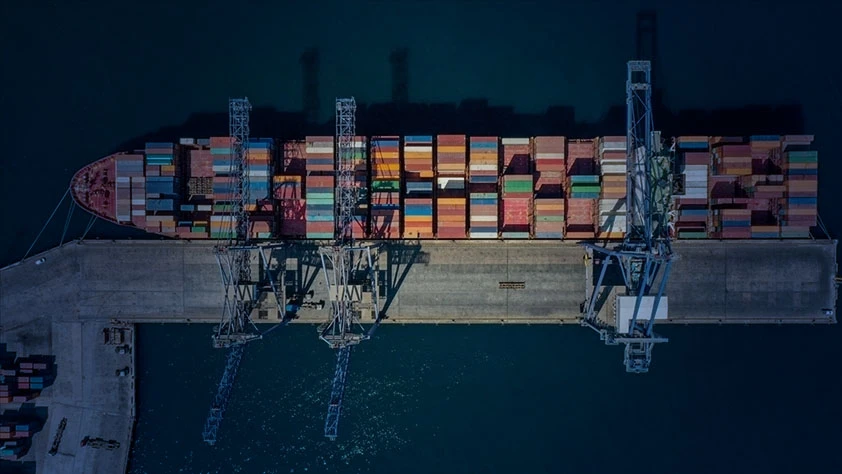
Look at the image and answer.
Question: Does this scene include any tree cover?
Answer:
No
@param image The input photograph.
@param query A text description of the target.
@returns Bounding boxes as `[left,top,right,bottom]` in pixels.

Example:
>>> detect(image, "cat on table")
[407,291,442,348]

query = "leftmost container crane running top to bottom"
[206,97,294,447]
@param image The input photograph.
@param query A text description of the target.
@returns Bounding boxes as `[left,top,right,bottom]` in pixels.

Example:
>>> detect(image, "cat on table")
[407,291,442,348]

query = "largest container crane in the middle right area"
[577,61,680,374]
